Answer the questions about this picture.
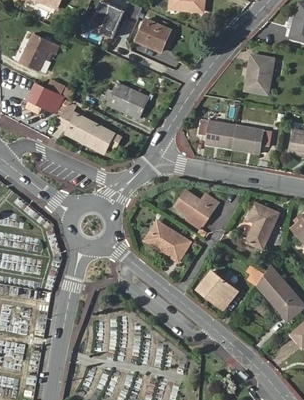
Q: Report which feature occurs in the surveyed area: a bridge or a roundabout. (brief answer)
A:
roundabout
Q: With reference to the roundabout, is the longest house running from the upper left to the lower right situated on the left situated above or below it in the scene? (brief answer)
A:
above it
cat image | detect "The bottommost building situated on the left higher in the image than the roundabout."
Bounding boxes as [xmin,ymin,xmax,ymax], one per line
[58,102,122,156]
